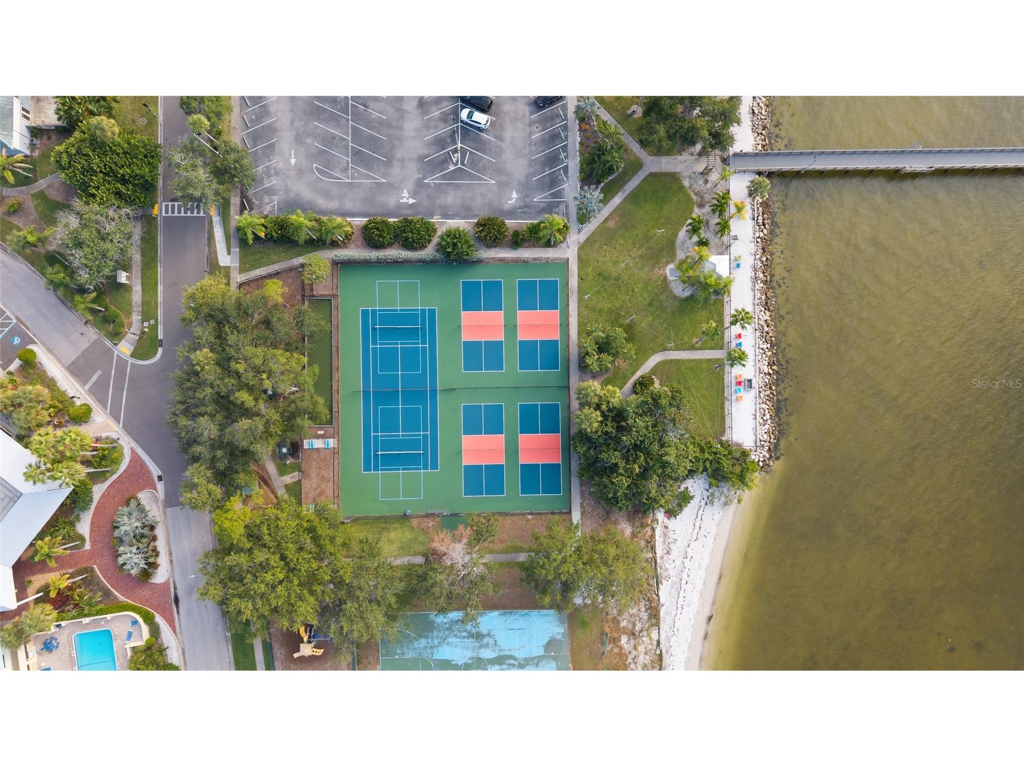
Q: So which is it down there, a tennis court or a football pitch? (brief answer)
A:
tennis court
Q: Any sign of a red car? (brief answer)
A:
No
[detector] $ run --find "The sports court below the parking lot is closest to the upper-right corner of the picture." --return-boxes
[516,278,563,371]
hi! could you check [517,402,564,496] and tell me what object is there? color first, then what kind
blue sports court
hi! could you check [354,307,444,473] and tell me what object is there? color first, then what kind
blue tennis court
